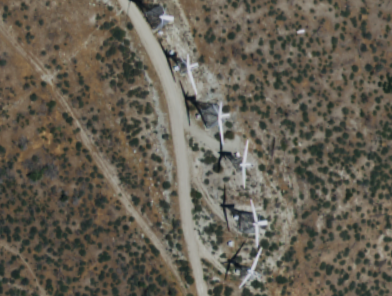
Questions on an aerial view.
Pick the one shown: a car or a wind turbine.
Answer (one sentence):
There is a wind turbine in the scene.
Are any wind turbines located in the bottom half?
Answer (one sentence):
Yes, a wind turbine is visible in the bottom half.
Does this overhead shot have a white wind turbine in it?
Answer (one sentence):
Yes, there is a white wind turbine in the image.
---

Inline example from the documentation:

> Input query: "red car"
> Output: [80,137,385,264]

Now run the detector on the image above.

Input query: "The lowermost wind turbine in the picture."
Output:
[236,248,260,290]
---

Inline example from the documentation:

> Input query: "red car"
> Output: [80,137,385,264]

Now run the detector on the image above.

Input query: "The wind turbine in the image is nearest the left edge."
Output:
[139,0,174,31]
